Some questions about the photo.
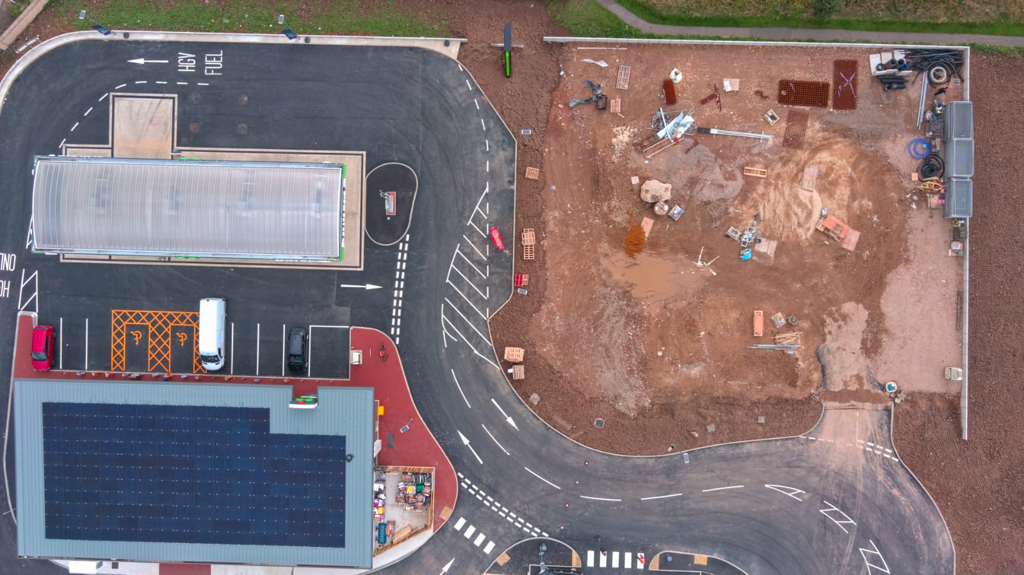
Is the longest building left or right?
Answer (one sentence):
You can find the longest building on the left side of the picture.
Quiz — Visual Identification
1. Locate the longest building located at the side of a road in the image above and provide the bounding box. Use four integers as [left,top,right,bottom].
[13,379,375,570]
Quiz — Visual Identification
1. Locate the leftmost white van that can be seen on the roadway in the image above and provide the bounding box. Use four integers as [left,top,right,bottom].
[197,298,228,369]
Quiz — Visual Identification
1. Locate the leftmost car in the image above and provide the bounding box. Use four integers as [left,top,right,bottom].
[31,325,59,370]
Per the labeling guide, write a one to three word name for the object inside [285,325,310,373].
car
